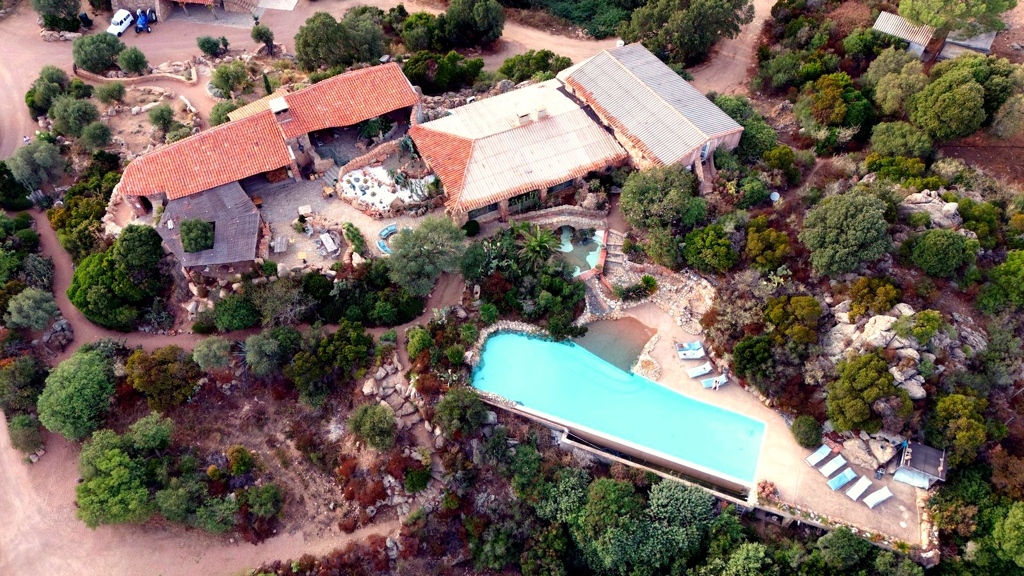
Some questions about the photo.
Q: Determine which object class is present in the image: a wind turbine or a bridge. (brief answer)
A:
bridge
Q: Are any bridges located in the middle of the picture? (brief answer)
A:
Yes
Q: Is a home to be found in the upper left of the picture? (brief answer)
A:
Yes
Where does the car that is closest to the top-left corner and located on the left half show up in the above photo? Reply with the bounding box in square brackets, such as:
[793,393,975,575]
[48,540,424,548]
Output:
[106,3,133,31]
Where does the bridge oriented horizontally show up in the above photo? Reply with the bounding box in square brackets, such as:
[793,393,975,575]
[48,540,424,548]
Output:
[497,209,611,253]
